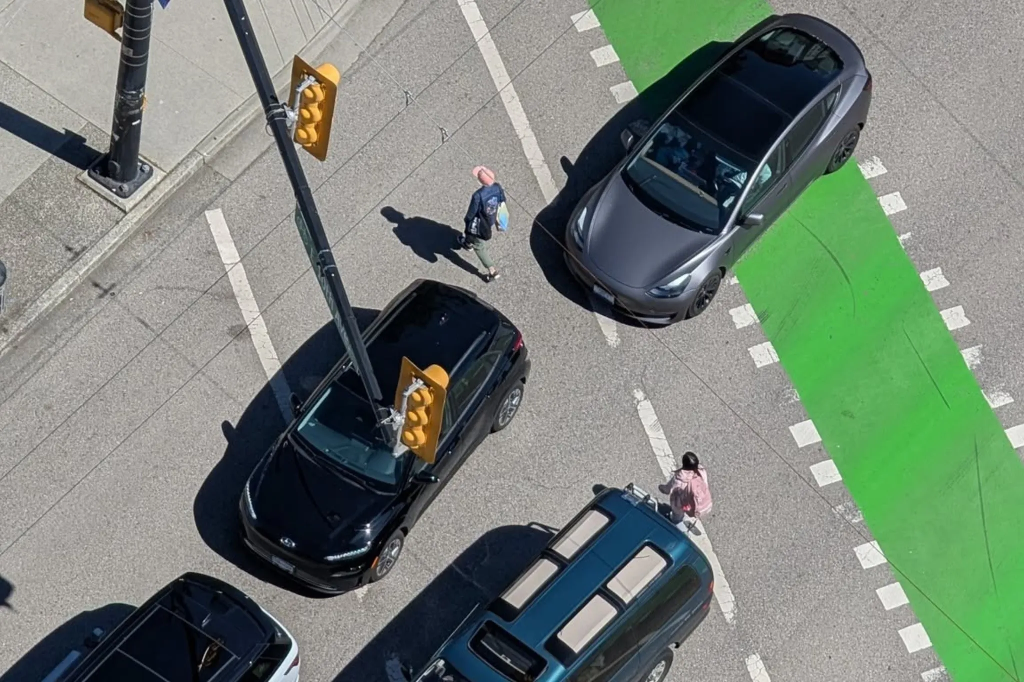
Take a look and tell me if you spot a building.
No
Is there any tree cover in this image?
No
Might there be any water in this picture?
No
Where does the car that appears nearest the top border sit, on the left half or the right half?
right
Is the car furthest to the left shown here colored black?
Yes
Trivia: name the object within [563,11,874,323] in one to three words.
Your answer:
car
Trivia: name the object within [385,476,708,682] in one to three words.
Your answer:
van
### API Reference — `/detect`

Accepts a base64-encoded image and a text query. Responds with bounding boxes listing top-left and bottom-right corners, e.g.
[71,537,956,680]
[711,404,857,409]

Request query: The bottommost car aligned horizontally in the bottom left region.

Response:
[63,574,303,682]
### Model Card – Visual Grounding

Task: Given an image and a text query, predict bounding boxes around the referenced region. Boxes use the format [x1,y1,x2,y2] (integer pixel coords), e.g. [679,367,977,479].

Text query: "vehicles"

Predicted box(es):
[385,476,708,682]
[232,274,537,592]
[63,574,303,682]
[563,11,874,323]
